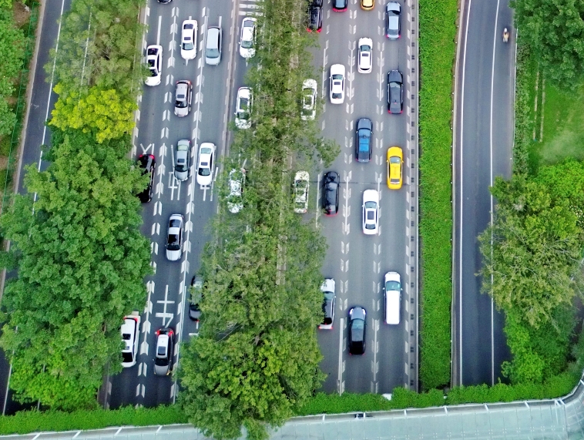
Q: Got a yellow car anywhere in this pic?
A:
Yes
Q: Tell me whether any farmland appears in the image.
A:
No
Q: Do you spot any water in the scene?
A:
No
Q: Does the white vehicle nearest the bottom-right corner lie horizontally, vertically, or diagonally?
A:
vertically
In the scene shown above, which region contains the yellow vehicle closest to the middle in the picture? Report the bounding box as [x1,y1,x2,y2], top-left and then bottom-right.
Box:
[385,145,405,190]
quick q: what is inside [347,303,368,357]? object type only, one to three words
car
